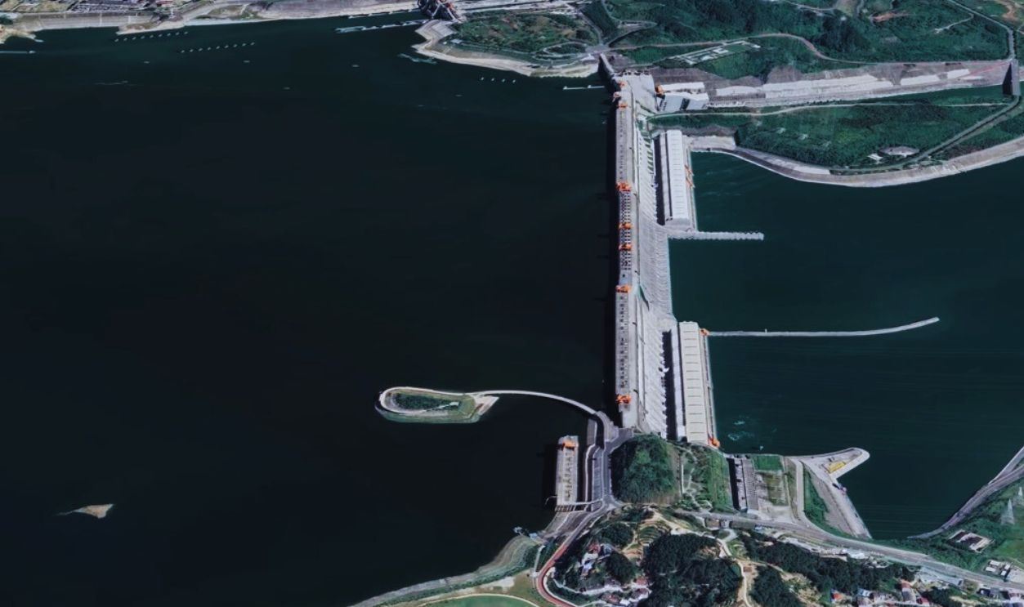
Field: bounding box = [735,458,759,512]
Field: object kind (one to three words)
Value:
building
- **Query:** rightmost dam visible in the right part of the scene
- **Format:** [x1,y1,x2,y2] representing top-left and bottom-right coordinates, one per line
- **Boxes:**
[614,73,698,449]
